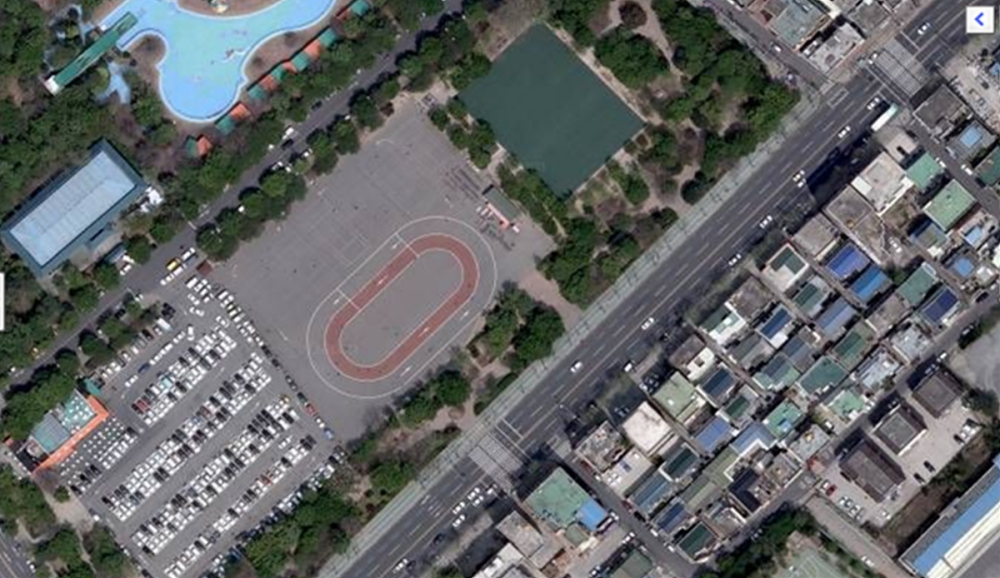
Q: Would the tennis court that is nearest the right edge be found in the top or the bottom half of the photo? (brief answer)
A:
bottom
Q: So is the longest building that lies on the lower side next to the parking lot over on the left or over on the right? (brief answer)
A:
left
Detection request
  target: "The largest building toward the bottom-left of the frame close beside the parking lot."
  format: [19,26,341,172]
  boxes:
[18,379,108,473]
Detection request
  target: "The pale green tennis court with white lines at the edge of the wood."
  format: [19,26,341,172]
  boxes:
[780,547,841,578]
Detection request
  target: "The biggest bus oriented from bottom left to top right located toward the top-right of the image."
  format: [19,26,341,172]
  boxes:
[870,104,897,131]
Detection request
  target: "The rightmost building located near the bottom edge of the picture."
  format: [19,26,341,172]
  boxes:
[897,462,1000,578]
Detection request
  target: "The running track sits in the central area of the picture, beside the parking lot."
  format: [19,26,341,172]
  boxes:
[307,216,497,399]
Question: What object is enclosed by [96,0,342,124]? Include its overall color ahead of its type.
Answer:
blue swimming pool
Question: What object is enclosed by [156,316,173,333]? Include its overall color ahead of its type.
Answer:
white vehicle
